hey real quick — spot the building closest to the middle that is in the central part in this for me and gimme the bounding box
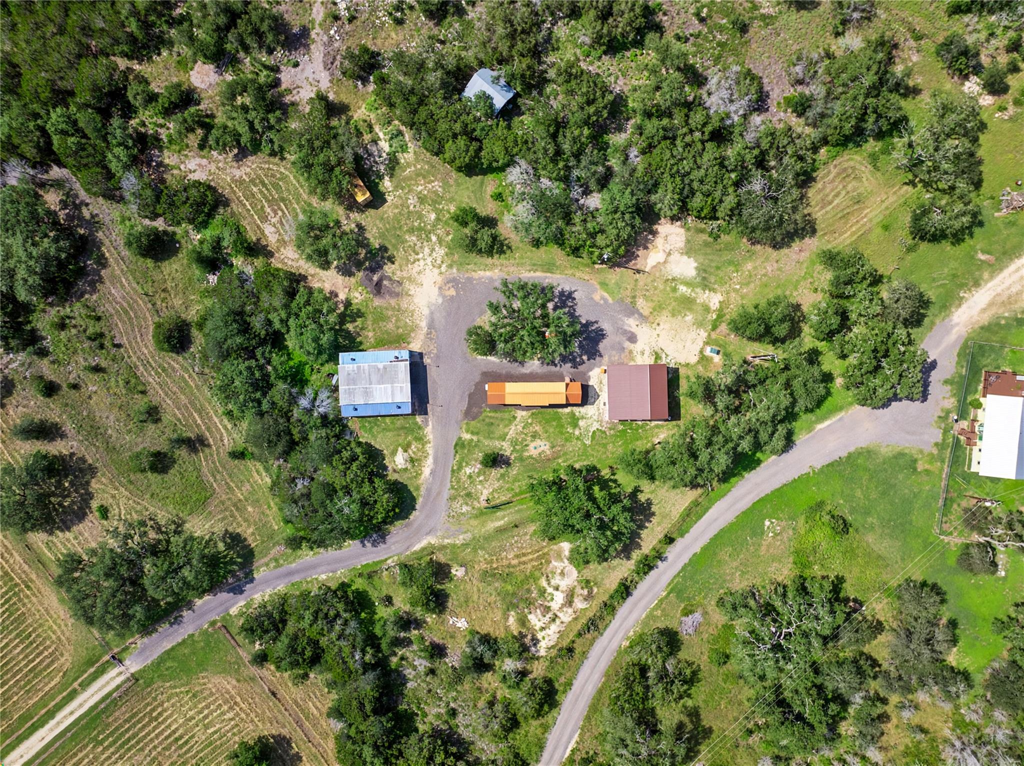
[487,382,582,407]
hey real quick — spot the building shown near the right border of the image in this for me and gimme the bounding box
[961,395,1024,480]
